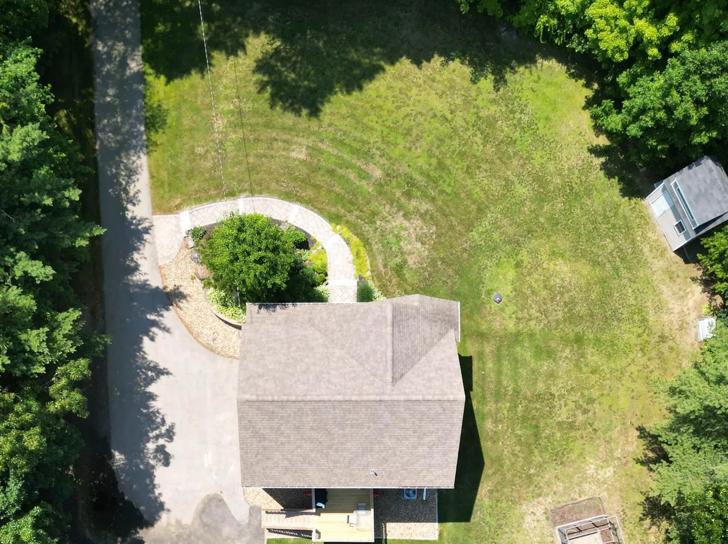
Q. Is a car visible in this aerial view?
No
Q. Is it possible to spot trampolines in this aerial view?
No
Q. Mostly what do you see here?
grass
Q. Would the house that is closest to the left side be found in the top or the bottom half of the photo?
bottom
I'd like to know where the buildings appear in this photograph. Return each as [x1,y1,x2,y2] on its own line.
[235,288,464,490]
[646,154,728,252]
